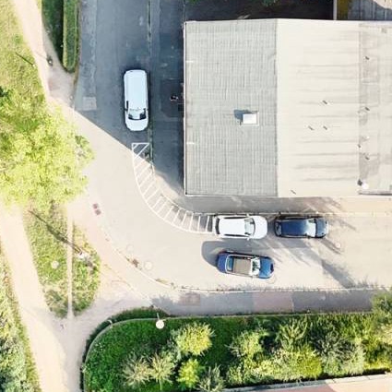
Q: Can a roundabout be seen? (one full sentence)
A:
No, the frame has no roundabout in it.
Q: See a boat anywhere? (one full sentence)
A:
No, the photo shows no boat.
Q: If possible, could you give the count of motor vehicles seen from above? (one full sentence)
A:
My tally gives 4 motor vehicles in this view.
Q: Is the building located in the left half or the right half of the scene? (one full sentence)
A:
The building appears in the right half of the scene.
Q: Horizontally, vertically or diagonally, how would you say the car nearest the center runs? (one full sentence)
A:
In this picture, the car nearest the center lies horizontally.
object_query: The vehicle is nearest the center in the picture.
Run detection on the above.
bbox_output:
[215,215,269,243]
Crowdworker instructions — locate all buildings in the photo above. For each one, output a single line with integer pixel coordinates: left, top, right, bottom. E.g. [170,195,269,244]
[181,18,392,199]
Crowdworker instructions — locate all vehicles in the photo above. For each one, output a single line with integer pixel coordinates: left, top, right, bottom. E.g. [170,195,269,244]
[217,254,275,282]
[275,216,330,243]
[215,215,269,243]
[122,71,151,132]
